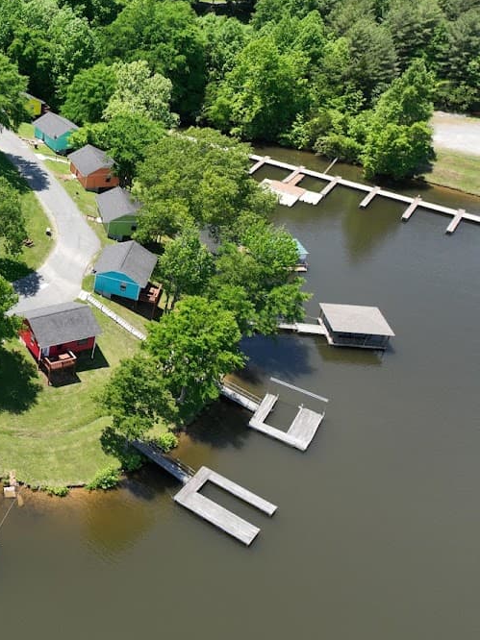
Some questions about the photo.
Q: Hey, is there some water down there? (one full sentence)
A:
Yes, water shows up in the scene.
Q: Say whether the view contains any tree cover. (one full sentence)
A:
Yes, there is tree cover in the image.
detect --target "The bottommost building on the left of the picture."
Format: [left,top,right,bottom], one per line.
[16,299,103,380]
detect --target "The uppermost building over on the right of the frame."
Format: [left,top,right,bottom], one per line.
[283,239,309,276]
